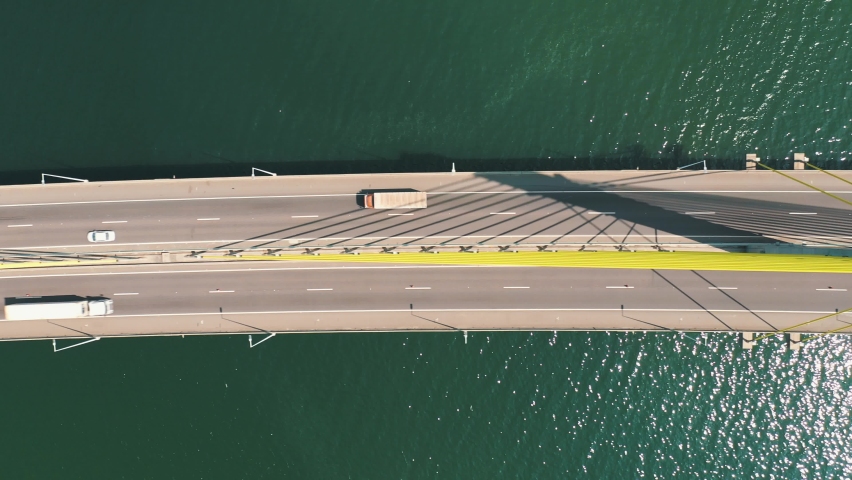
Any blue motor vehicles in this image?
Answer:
No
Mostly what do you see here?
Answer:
water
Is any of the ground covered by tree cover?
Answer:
No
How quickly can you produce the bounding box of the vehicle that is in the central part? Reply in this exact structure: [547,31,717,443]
[364,192,428,211]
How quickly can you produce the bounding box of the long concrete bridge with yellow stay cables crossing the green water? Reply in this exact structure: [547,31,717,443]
[0,153,852,350]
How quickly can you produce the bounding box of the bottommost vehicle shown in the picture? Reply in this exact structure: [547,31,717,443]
[5,298,115,319]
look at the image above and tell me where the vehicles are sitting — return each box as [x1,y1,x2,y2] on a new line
[364,192,428,211]
[90,230,117,242]
[5,298,115,319]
